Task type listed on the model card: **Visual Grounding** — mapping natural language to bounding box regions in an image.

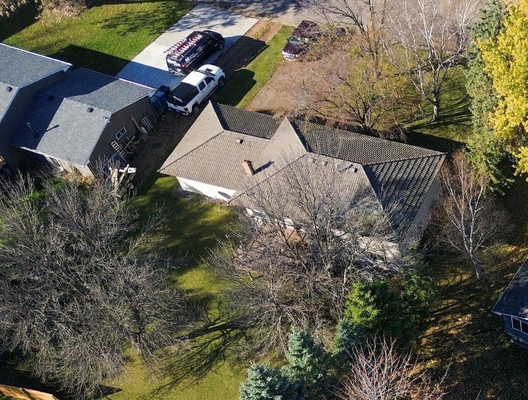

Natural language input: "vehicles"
[280,17,327,57]
[163,37,228,79]
[161,73,229,120]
